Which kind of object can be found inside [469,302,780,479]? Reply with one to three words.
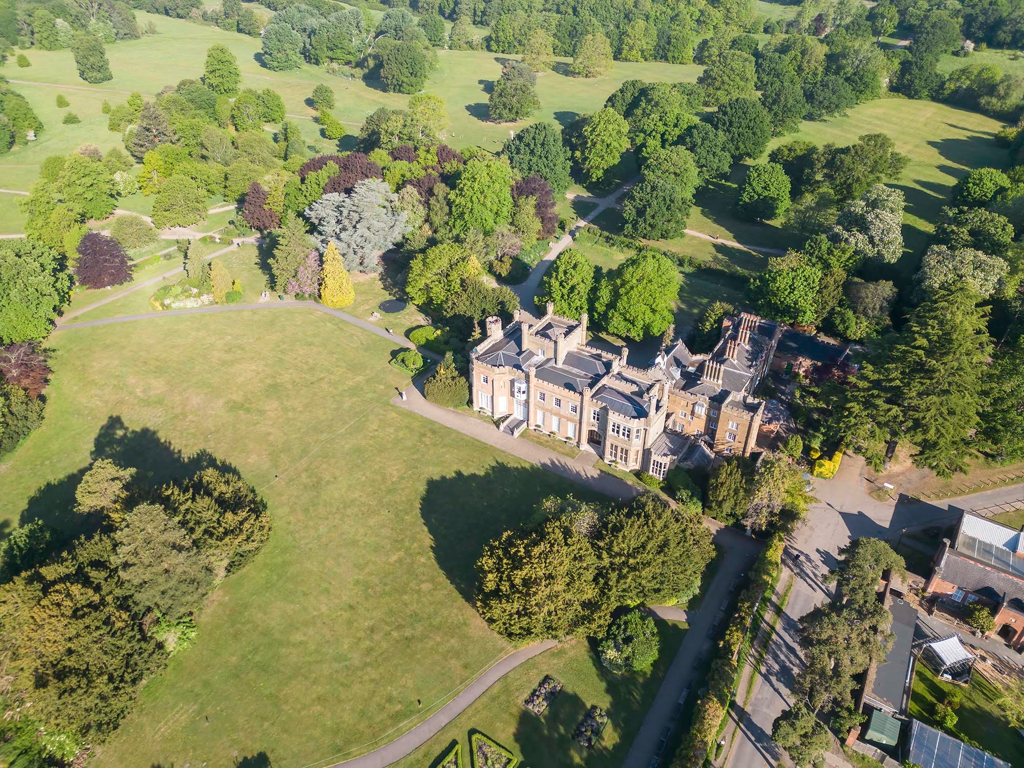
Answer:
house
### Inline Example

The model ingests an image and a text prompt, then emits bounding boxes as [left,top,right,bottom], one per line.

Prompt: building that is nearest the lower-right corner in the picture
[902,719,1020,768]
